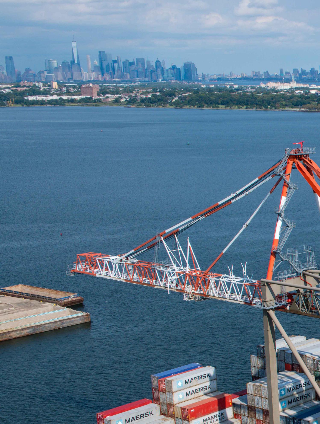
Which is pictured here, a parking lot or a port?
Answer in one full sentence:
This image shows a port.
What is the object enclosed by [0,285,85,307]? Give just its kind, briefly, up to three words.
ship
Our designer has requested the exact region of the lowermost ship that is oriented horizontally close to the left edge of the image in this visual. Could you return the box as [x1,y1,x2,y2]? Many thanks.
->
[0,307,93,341]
